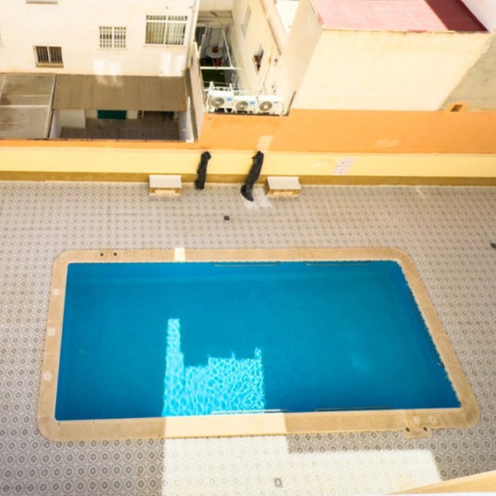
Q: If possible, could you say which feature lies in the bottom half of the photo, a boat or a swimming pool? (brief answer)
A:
swimming pool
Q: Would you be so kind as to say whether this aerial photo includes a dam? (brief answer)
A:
No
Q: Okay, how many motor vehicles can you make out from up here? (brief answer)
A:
zero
